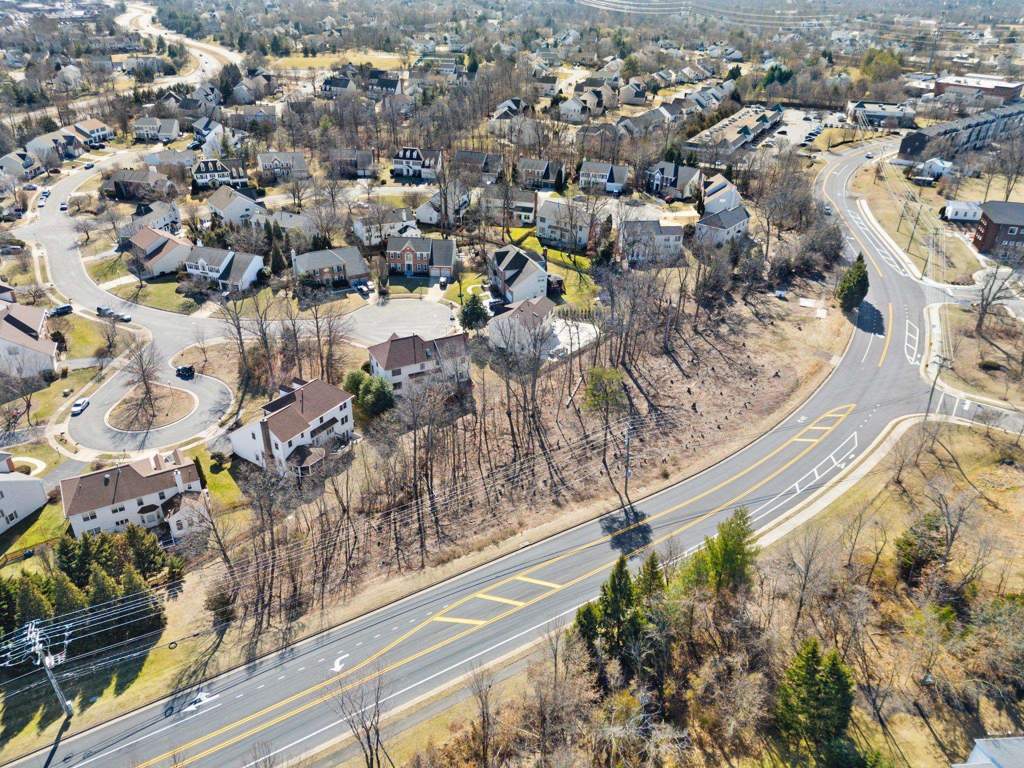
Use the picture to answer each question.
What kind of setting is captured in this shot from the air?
residential area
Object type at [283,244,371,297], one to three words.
house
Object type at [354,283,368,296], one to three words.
vehicle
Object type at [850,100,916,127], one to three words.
building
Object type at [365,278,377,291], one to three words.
vehicle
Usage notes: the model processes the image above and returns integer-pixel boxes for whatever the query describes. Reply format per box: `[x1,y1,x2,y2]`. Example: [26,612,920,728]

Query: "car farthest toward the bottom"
[66,398,91,414]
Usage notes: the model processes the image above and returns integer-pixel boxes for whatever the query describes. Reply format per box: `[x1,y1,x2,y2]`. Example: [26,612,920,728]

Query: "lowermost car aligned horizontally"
[170,364,199,377]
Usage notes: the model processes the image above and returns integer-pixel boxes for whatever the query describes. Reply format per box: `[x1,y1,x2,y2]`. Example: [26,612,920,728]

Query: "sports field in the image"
[271,57,410,70]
